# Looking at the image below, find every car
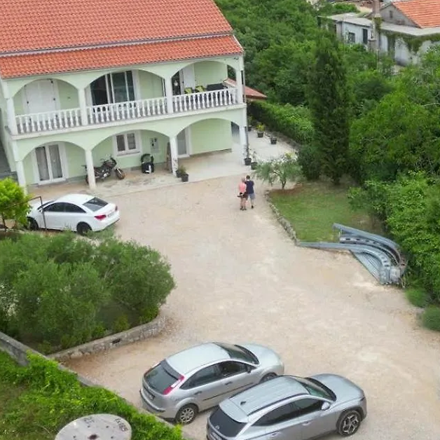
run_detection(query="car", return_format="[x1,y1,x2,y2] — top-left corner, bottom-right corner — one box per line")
[141,336,290,424]
[210,371,375,440]
[15,193,125,238]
